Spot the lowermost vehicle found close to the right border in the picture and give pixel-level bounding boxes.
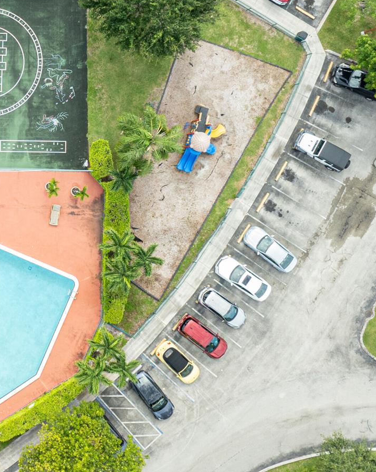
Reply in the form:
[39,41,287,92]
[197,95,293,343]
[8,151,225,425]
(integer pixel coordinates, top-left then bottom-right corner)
[290,126,358,175]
